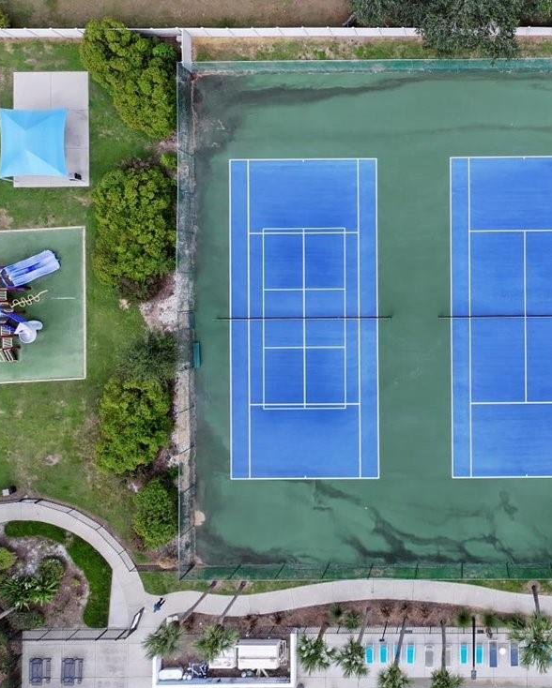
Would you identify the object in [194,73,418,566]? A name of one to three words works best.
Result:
tennis court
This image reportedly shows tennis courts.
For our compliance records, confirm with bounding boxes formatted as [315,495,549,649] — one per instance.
[194,73,418,566]
[415,73,552,565]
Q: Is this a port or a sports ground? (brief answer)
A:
sports ground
